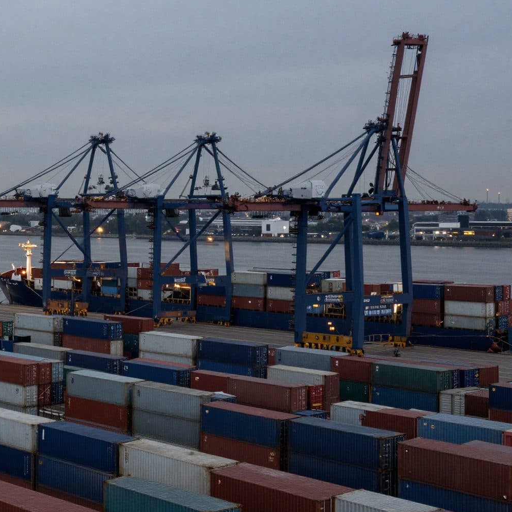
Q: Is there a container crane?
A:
Yes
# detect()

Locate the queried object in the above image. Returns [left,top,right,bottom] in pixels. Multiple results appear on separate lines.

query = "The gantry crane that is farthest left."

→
[0,133,151,319]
